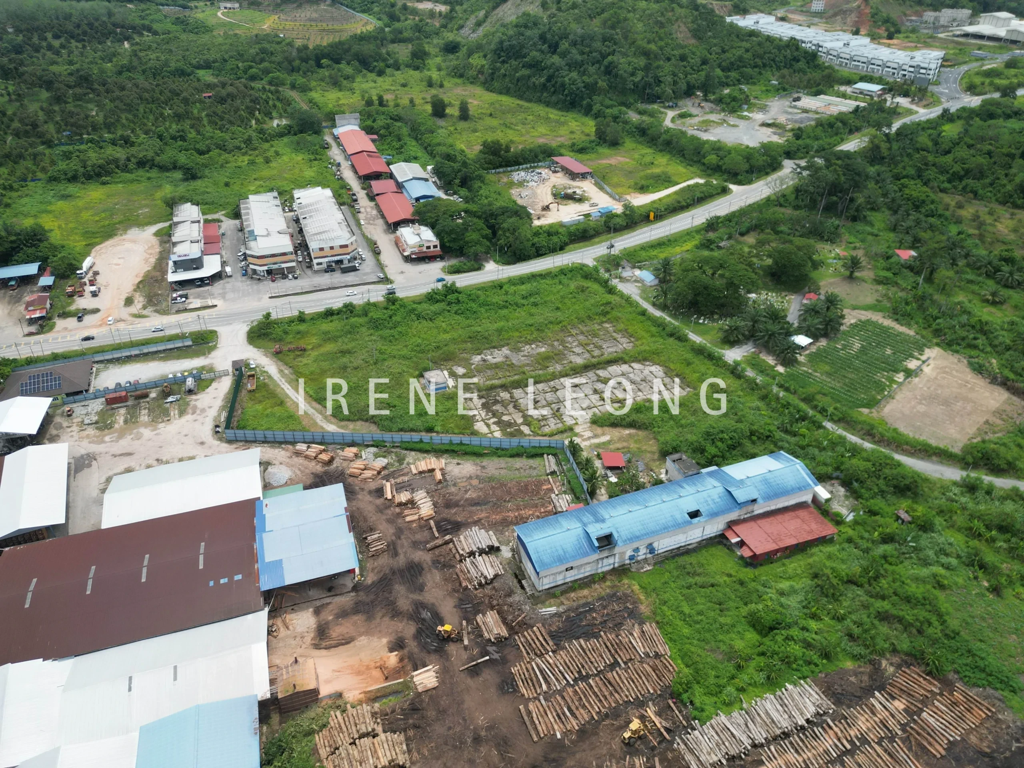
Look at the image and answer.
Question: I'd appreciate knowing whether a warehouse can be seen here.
Yes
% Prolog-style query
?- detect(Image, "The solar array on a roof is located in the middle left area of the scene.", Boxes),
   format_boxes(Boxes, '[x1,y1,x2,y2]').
[20,374,63,396]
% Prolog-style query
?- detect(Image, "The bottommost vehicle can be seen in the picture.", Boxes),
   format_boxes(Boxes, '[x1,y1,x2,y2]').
[620,714,656,744]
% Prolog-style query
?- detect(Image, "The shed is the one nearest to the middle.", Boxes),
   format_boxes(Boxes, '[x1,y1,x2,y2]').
[423,369,449,394]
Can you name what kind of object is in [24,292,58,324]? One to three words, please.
building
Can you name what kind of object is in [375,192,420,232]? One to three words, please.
shed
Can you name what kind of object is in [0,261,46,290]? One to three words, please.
shed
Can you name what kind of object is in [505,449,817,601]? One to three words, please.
warehouse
